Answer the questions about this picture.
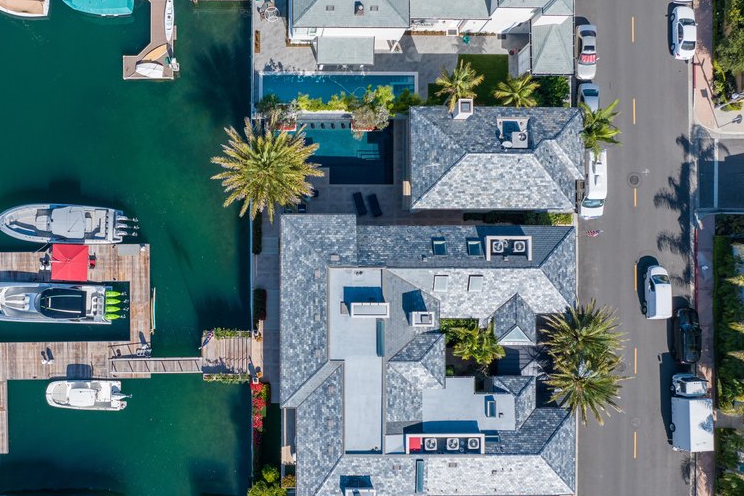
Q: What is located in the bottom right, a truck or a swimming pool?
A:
truck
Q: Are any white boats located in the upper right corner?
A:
No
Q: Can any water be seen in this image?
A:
Yes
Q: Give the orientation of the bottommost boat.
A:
from left to right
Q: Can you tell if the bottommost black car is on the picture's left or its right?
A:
right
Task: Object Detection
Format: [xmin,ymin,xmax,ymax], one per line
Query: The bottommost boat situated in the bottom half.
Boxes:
[45,380,143,408]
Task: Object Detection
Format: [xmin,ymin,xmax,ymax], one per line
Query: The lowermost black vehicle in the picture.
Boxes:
[669,308,703,364]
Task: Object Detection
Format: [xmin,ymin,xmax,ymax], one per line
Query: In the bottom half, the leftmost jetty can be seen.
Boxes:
[0,244,151,454]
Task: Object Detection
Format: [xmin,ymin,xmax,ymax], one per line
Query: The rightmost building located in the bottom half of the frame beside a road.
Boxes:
[278,214,575,496]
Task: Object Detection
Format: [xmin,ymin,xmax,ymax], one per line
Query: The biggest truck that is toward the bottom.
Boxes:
[669,372,715,452]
